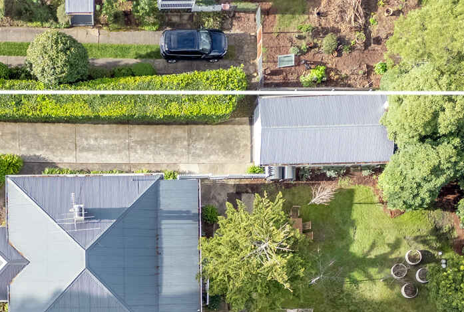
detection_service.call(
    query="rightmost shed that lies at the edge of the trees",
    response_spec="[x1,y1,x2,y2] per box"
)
[253,95,397,167]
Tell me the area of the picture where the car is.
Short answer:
top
